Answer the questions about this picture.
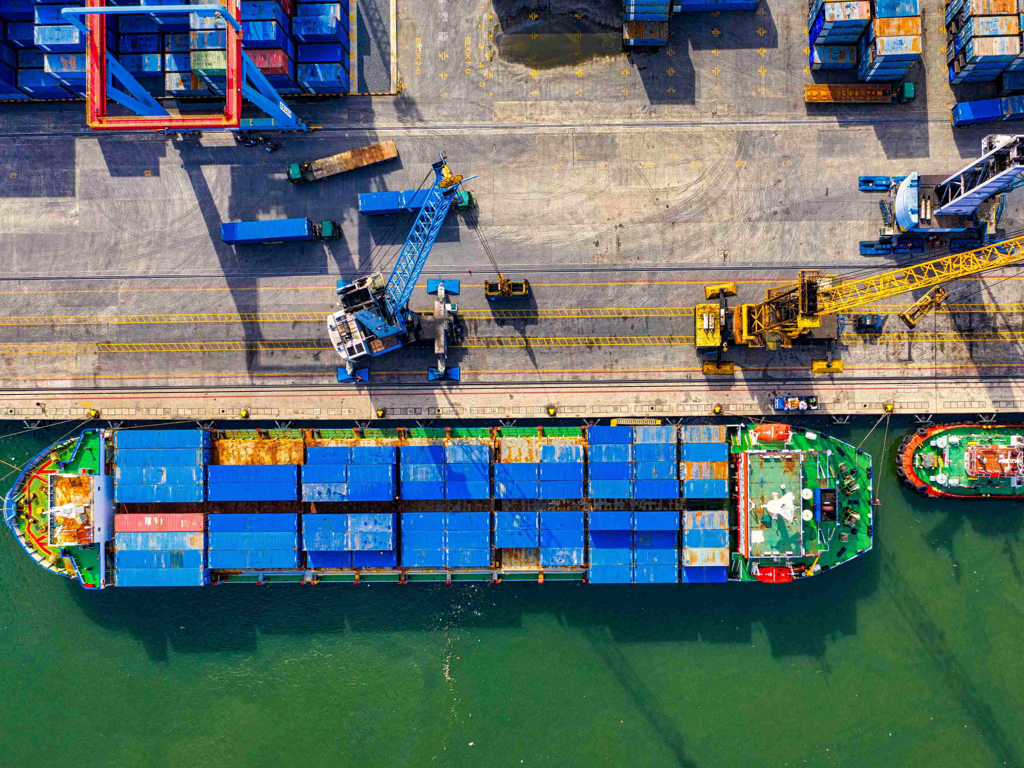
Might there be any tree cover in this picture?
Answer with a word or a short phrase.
No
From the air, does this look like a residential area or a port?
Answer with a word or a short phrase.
port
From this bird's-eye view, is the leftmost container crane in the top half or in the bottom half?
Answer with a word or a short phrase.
top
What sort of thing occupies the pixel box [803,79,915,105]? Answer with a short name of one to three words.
truck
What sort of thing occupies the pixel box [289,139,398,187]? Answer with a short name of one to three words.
truck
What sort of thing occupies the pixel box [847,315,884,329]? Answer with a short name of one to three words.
work vehicle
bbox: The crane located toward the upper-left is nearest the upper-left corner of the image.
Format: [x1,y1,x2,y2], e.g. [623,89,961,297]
[66,0,324,135]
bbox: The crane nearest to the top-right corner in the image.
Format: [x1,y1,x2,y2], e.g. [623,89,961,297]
[856,124,1024,256]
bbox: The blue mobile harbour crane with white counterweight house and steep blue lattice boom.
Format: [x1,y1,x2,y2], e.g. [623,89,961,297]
[328,133,497,382]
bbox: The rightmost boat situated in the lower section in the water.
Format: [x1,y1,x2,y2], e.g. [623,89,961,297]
[896,421,1024,501]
